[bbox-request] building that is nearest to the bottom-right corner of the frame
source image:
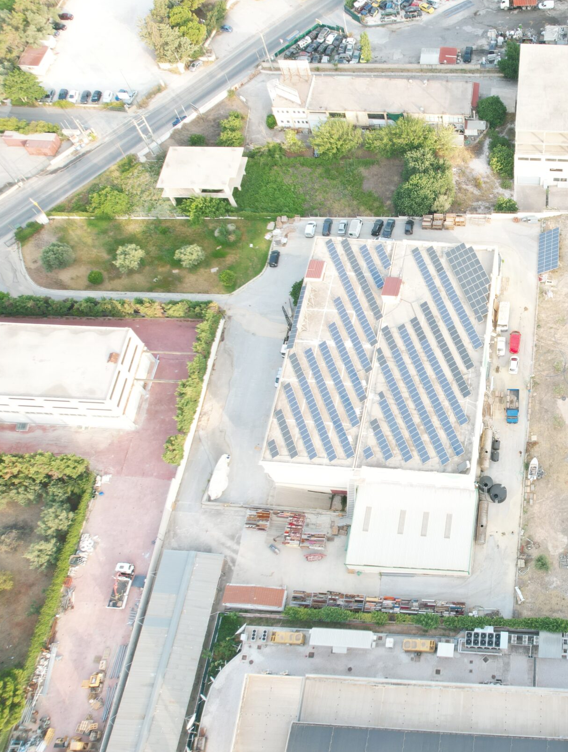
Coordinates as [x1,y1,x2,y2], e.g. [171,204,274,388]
[345,476,477,579]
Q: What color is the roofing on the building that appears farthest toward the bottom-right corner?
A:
white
